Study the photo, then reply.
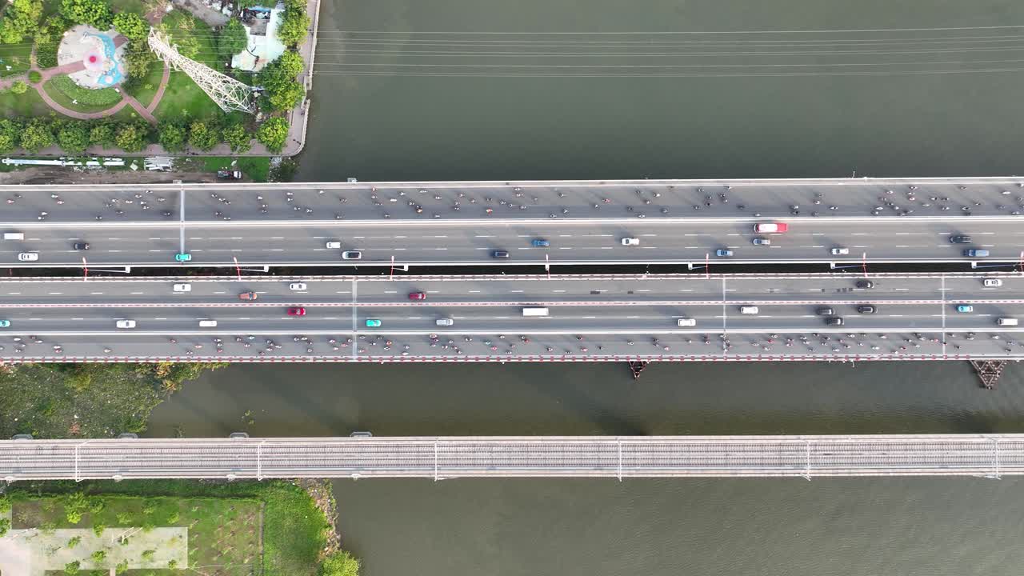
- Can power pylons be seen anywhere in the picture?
Yes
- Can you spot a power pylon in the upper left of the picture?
Yes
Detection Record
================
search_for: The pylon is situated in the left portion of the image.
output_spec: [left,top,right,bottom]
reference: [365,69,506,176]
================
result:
[148,26,256,116]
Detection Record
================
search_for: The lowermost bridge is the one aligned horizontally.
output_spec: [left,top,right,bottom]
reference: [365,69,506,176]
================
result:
[0,430,1024,482]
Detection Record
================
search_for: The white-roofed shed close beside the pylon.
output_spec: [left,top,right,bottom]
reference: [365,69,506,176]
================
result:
[230,6,287,70]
